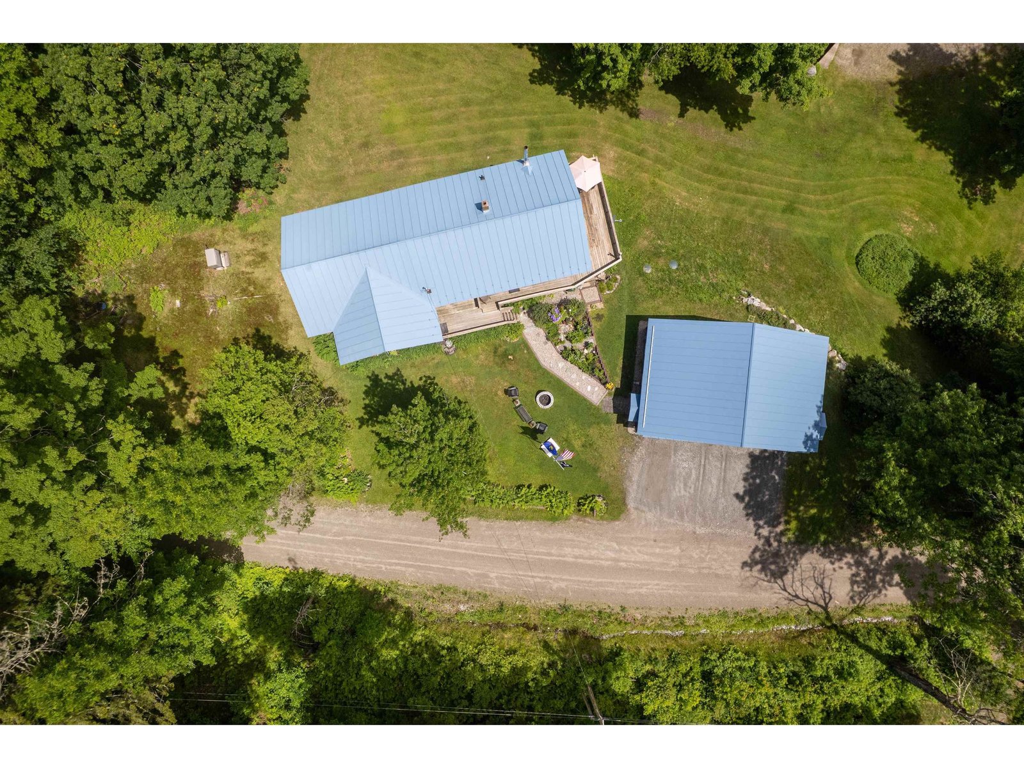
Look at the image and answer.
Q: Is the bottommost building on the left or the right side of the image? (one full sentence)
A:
The bottommost building is on the right side of the image.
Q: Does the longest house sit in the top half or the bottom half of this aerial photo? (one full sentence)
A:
You can find the longest house in the top half.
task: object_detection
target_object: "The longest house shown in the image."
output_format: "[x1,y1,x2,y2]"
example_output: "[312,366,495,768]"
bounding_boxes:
[281,145,592,363]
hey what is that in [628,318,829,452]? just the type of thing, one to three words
building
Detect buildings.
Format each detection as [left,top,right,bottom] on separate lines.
[628,318,829,452]
[281,145,592,363]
